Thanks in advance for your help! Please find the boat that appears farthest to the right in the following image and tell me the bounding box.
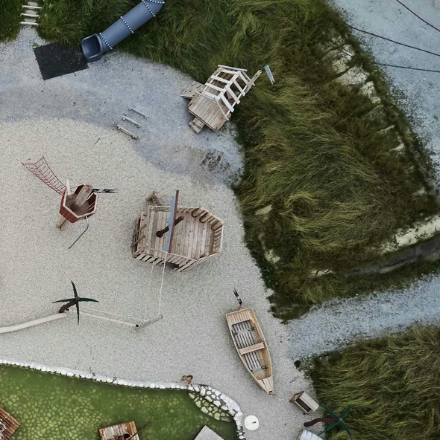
[221,291,275,395]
